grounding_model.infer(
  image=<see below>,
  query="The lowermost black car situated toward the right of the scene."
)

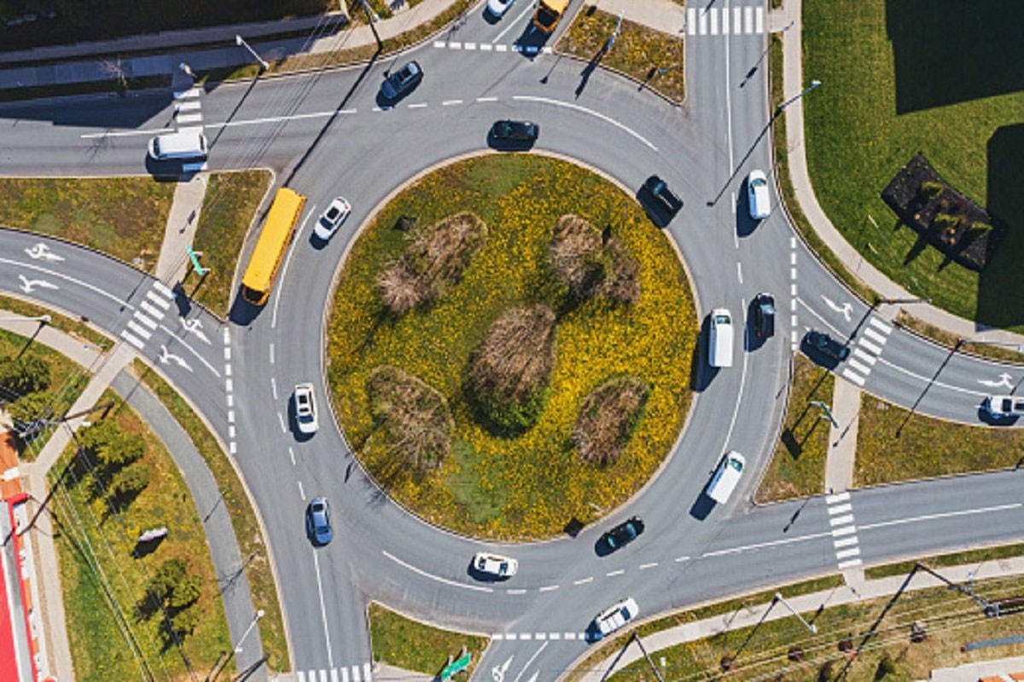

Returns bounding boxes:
[598,517,643,551]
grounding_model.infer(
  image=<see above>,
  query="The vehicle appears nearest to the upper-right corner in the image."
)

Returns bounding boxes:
[744,171,768,221]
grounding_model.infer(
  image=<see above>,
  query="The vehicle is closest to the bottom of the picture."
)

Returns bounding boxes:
[595,597,639,632]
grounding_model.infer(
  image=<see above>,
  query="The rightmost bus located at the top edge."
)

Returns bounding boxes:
[538,0,576,32]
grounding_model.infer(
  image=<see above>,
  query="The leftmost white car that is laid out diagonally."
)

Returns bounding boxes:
[315,197,351,242]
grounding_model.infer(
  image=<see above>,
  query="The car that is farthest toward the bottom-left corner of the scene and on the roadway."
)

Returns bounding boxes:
[310,498,333,544]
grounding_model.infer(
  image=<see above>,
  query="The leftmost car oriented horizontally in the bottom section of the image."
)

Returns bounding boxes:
[472,552,518,577]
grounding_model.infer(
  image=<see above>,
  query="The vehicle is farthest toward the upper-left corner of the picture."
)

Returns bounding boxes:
[152,135,212,159]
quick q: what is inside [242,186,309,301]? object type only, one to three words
bus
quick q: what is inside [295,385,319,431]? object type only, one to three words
car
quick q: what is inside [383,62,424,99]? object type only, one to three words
car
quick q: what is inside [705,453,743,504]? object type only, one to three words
van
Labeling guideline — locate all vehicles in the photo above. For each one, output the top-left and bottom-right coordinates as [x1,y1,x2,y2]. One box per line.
[752,293,775,338]
[489,0,514,17]
[489,119,538,142]
[152,135,212,159]
[538,0,576,32]
[705,453,743,504]
[315,197,351,242]
[242,186,309,301]
[472,552,518,577]
[598,517,643,551]
[801,333,847,364]
[641,174,686,219]
[595,597,639,632]
[383,62,424,99]
[295,385,319,431]
[707,311,732,365]
[310,498,333,544]
[744,171,768,221]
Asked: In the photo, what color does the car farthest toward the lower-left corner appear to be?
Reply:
blue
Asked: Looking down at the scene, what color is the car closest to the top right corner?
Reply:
white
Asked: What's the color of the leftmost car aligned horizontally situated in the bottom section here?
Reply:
white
